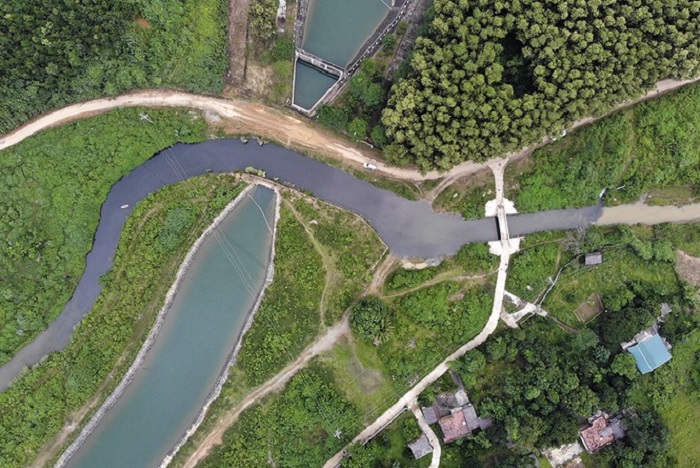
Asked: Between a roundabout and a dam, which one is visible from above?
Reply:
dam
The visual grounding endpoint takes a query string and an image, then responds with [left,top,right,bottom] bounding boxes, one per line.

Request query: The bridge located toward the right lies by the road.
[484,199,520,257]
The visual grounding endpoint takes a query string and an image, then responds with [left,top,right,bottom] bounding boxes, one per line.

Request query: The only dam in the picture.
[292,47,346,113]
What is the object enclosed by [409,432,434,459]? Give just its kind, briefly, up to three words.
shed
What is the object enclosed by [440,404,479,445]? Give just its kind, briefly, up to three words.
house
